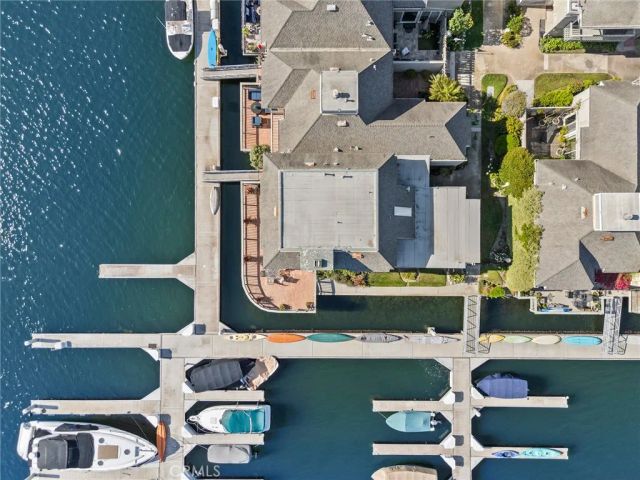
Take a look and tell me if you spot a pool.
No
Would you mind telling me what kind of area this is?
residential area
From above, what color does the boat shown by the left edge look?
white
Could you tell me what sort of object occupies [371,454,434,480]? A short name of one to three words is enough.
boat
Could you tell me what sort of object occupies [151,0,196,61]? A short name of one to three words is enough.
boat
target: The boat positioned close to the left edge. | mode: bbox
[18,412,159,472]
